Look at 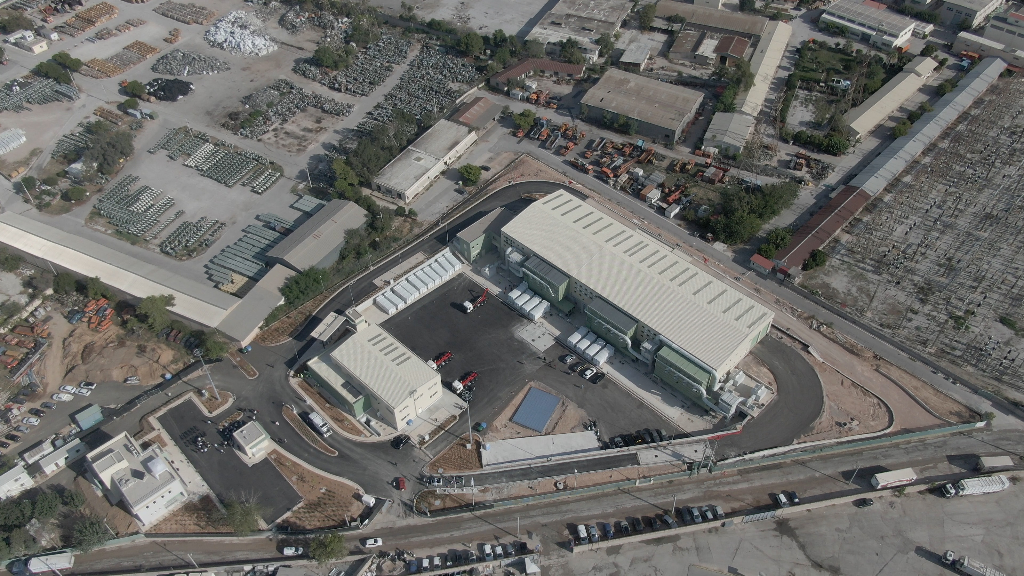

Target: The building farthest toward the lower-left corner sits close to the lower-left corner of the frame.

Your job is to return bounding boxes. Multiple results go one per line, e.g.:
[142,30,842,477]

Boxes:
[0,465,39,506]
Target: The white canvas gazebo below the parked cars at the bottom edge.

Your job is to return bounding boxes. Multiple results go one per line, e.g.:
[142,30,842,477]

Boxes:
[522,554,543,576]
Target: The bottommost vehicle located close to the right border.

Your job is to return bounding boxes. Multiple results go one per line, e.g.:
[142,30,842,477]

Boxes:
[943,552,1016,576]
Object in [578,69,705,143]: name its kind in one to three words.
hangar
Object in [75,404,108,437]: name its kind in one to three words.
building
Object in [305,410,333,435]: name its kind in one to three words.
truck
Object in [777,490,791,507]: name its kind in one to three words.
car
